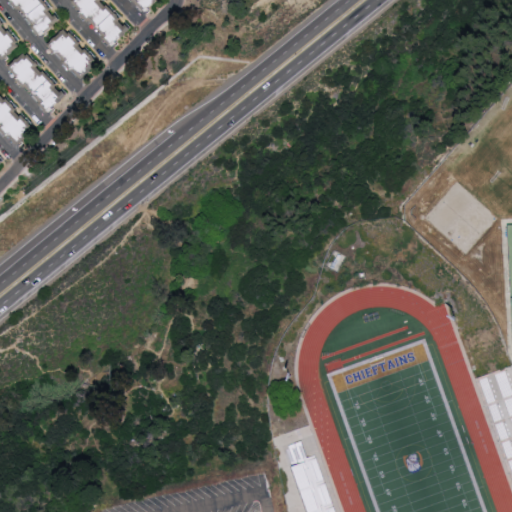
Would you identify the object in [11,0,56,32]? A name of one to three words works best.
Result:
house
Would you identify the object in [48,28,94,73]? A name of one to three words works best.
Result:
house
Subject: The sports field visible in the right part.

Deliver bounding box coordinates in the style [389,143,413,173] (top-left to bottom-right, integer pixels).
[320,307,496,512]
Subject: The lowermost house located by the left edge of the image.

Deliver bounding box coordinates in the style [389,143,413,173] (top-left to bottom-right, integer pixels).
[0,94,30,139]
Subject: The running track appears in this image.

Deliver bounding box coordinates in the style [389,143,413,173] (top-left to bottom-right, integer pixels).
[299,286,512,512]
